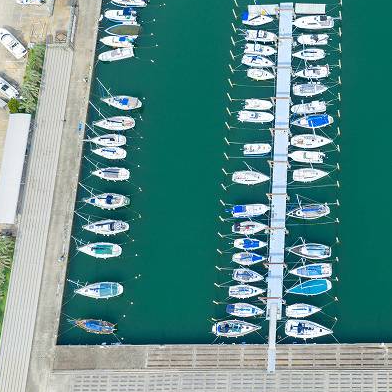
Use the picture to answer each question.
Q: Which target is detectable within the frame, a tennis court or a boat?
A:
boat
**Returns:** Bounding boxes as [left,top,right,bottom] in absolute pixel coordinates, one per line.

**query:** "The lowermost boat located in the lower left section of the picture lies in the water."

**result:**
[57,312,121,337]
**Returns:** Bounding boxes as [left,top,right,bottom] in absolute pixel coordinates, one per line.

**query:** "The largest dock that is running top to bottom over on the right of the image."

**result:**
[263,3,297,319]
